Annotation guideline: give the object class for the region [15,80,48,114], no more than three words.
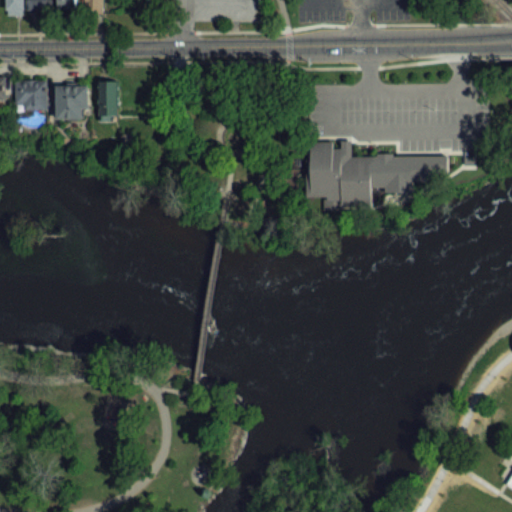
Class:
house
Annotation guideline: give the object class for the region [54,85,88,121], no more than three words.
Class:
house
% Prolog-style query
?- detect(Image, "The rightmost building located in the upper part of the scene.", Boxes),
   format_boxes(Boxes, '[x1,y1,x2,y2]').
[310,140,447,208]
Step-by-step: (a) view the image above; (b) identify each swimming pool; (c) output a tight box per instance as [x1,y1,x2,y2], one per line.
[18,114,46,128]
